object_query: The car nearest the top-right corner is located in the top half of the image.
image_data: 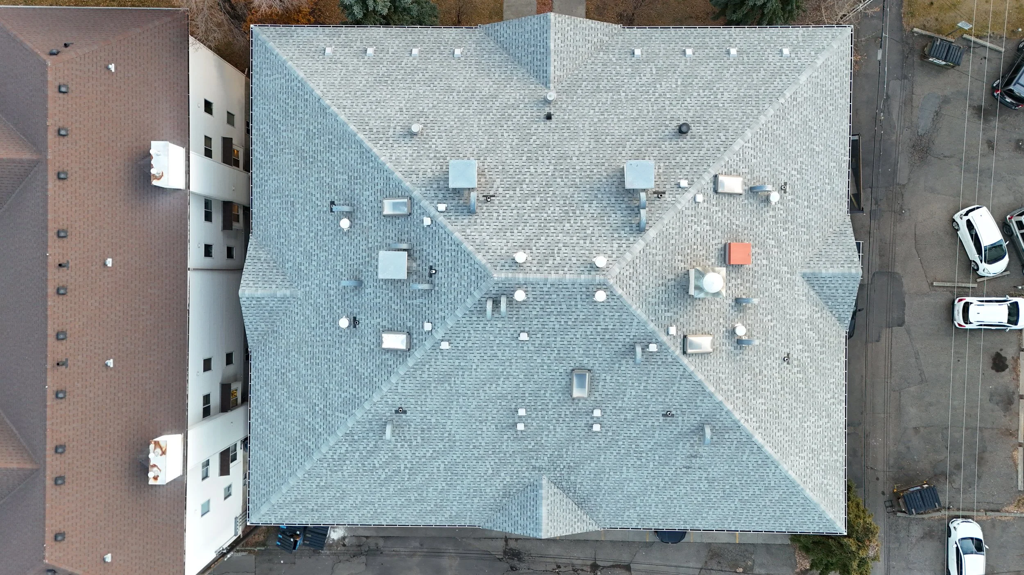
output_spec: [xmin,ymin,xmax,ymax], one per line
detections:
[992,39,1024,109]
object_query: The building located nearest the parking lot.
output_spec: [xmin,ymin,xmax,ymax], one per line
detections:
[239,11,862,539]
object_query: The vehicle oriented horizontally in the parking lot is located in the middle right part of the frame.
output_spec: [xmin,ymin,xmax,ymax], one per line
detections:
[948,295,1024,332]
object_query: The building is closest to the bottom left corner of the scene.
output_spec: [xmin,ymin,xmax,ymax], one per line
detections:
[0,6,252,575]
